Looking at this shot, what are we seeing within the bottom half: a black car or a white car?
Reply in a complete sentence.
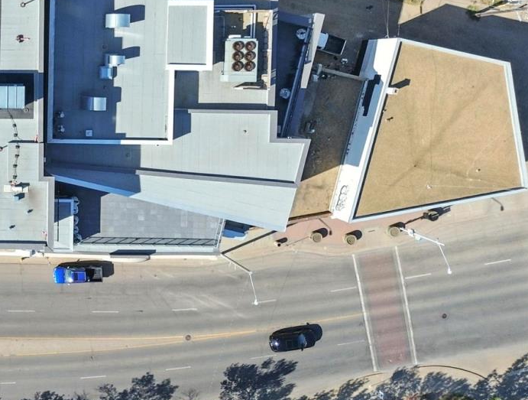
The feature located within the bottom half is a black car.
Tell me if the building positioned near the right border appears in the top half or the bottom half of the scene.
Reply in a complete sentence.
Seen from above, the building positioned near the right border lies in the top half of the view.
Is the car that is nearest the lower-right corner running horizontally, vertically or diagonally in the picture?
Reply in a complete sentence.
I'd say the car that is nearest the lower-right corner is aligned horizontally in the picture.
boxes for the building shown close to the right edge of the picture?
[327,38,528,223]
